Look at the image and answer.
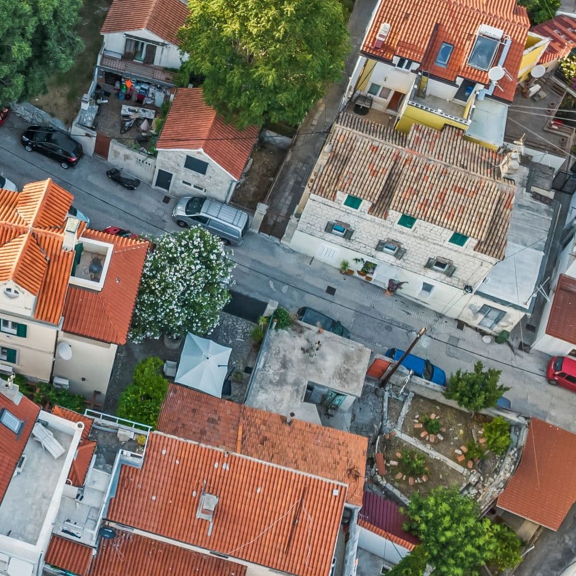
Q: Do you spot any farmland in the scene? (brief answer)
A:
No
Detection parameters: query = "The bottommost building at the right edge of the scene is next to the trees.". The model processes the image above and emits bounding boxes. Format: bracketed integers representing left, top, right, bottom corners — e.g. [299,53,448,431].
[491,418,576,550]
